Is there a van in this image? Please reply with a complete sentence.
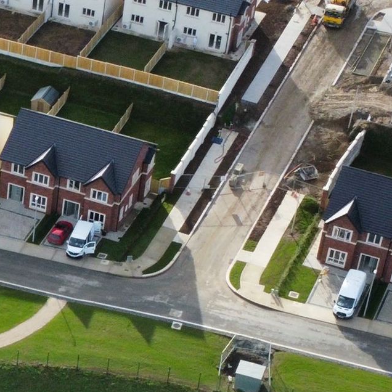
Yes, the photo shows a van.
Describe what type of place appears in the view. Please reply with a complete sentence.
This looks like a residential area.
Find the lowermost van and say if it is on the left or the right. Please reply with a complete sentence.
It is on the right.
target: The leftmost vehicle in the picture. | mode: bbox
[49,219,76,244]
